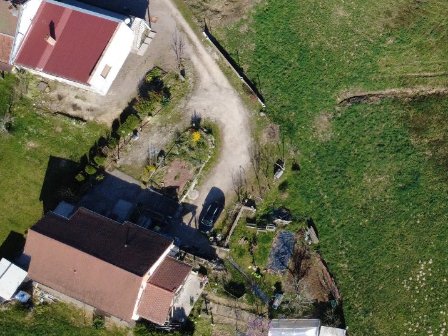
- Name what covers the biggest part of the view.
grass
